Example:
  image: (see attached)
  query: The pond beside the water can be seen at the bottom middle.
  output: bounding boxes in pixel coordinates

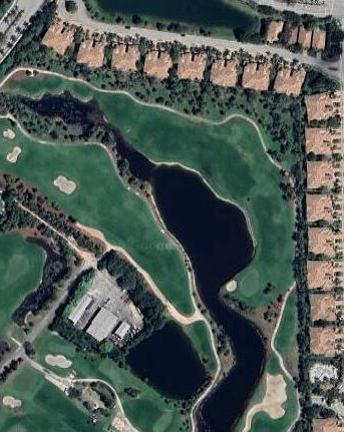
[127,322,209,399]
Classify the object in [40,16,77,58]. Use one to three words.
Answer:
house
